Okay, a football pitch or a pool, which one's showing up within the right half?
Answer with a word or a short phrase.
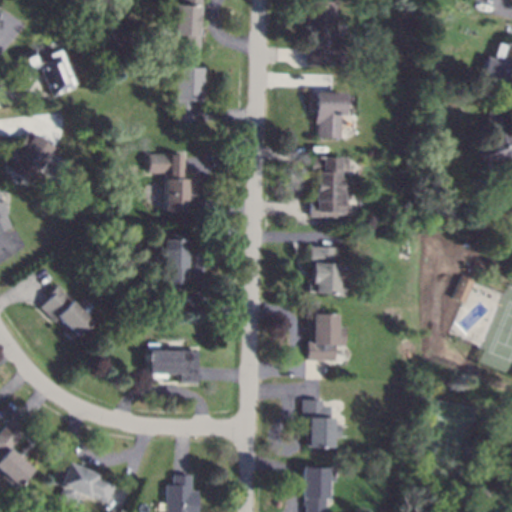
pool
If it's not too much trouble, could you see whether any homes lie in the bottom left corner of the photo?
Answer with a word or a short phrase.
Yes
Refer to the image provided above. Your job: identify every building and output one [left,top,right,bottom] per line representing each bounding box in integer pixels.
[149,151,194,212]
[8,138,55,182]
[317,92,353,140]
[0,428,32,492]
[152,350,199,382]
[312,156,350,219]
[178,66,208,109]
[302,400,344,450]
[453,276,474,304]
[312,246,346,296]
[164,238,191,284]
[178,0,204,48]
[308,314,348,360]
[490,40,512,78]
[165,474,198,512]
[36,50,78,96]
[304,469,334,512]
[63,462,118,506]
[43,288,92,332]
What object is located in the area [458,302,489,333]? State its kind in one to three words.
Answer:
swimming pool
